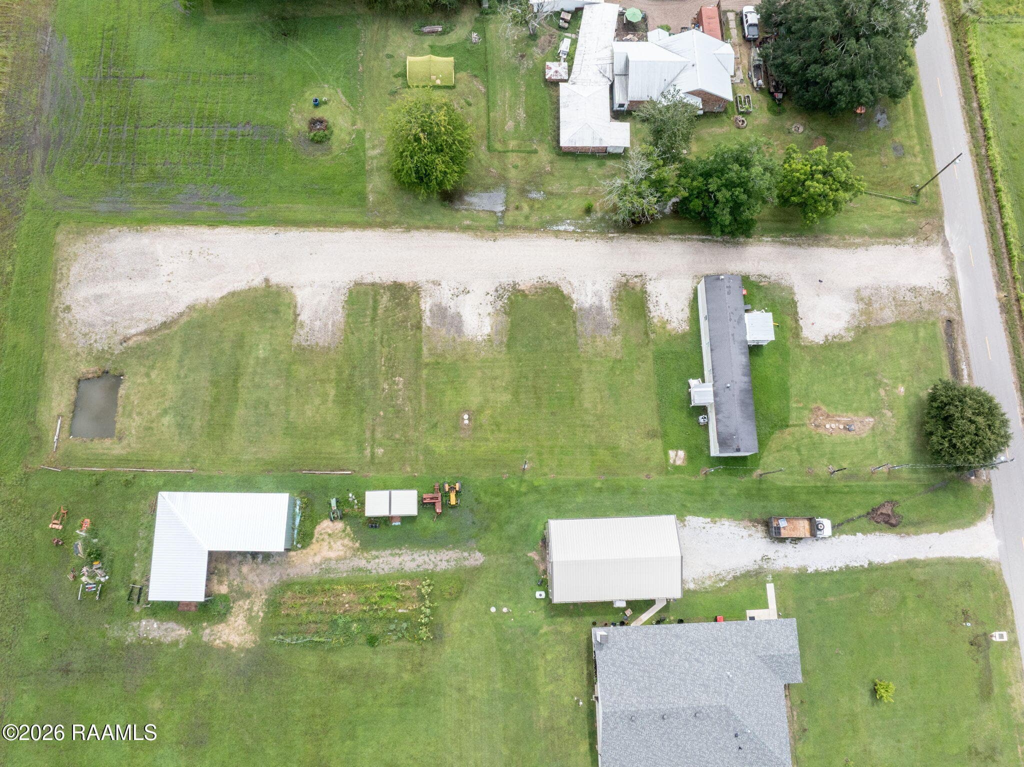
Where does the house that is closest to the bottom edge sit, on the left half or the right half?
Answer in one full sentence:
The house that is closest to the bottom edge sits on the right side.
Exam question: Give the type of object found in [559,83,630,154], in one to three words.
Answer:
house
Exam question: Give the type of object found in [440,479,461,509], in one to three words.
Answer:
work vehicle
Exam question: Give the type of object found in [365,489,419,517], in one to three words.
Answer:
shed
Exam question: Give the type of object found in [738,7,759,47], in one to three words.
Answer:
truck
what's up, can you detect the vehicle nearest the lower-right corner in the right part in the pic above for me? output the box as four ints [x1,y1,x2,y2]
[770,515,841,538]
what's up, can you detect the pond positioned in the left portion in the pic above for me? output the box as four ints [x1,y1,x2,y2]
[70,373,124,441]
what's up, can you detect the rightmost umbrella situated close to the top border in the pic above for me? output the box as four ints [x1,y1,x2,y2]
[624,7,642,28]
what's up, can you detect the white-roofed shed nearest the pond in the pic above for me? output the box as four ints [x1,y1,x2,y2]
[149,490,291,601]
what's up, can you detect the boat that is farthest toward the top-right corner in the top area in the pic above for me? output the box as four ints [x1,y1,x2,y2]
[748,46,763,84]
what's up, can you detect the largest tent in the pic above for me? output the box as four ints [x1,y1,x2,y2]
[407,55,456,95]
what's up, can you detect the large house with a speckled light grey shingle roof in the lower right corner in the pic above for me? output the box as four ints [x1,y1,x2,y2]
[591,618,804,767]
